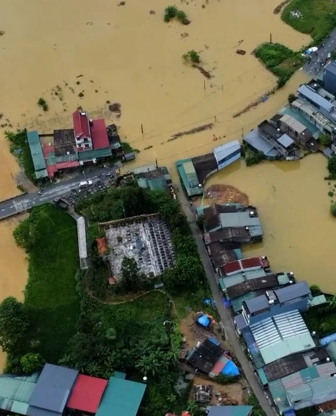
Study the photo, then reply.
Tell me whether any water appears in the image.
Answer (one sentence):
Yes, water can be seen from above here.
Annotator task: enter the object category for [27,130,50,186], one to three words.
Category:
house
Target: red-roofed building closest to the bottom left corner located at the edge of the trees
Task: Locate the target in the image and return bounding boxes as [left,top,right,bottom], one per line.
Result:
[68,374,108,416]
